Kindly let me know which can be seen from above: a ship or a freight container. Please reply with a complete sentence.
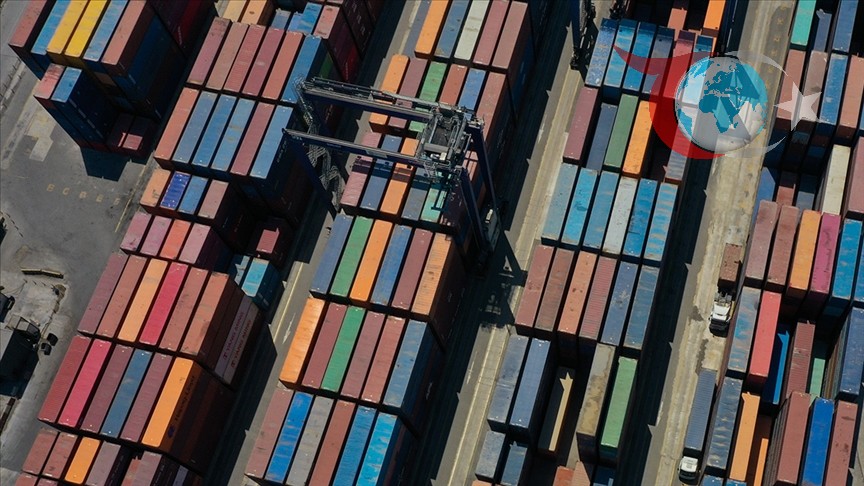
Of the two, only a freight container appears.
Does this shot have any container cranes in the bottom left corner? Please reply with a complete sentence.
No, the scene shows no container crane in the bottom left corner.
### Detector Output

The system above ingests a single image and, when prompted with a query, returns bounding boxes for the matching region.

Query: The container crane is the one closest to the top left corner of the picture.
[268,78,507,269]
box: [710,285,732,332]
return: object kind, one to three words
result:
truck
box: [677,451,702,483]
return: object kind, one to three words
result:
truck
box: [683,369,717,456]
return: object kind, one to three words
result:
shipping container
